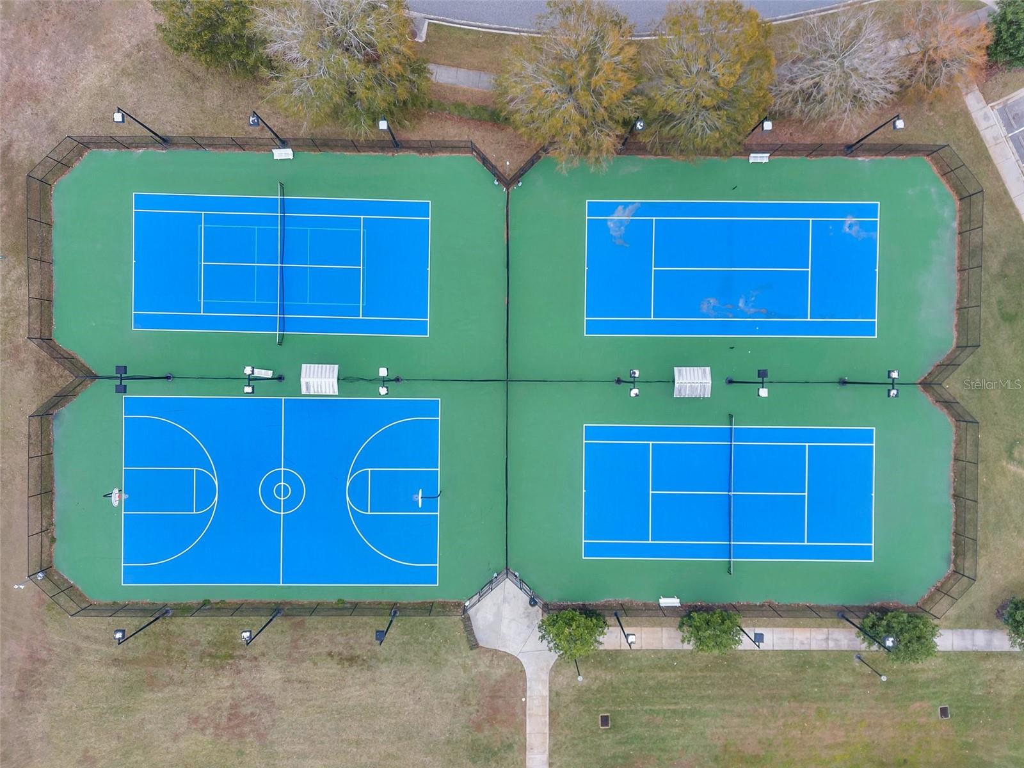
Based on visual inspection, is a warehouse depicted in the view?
No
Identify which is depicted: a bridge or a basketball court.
basketball court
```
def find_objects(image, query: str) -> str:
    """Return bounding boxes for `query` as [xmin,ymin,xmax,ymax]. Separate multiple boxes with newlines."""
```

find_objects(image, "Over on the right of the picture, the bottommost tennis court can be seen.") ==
[508,381,957,606]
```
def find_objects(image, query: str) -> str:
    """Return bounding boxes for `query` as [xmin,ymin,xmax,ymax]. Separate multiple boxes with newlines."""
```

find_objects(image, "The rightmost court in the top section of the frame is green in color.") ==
[507,156,959,383]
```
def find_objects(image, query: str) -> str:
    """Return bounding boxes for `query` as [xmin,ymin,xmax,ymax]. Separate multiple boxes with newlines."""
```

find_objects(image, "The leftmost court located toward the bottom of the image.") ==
[51,378,507,603]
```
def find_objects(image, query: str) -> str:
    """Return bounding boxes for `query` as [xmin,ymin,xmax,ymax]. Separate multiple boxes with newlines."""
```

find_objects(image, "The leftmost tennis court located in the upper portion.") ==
[51,150,507,380]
